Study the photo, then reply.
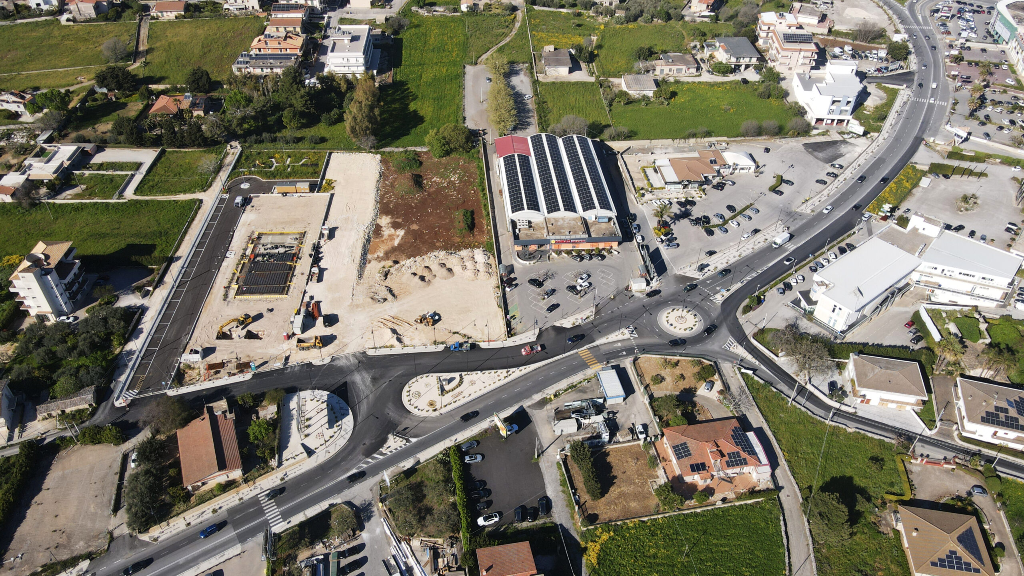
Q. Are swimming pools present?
No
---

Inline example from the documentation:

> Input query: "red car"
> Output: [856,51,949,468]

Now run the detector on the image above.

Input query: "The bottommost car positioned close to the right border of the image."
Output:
[968,485,991,499]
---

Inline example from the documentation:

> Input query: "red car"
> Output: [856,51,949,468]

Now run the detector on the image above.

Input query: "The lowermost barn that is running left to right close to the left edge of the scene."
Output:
[37,387,99,423]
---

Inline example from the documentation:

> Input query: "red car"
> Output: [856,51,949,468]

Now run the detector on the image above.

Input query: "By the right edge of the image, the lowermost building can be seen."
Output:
[894,505,996,576]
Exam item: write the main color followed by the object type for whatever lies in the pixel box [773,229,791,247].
white vehicle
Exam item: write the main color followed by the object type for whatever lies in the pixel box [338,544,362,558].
black car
